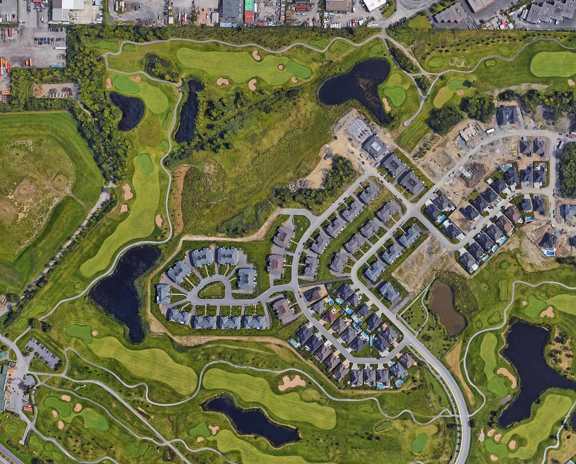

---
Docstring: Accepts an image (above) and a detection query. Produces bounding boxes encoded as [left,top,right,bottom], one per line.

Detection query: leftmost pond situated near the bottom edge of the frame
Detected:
[201,395,299,448]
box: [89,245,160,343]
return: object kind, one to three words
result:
pond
